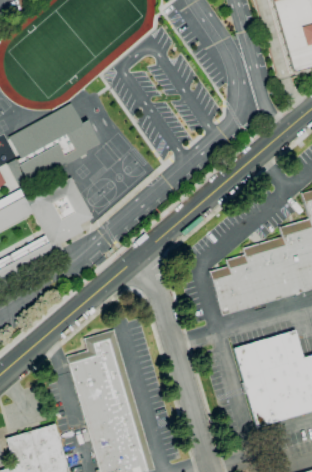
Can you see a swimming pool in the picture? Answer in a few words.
No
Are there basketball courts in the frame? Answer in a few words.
Yes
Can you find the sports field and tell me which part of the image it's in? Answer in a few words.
top left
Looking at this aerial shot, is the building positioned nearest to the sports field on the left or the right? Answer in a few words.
left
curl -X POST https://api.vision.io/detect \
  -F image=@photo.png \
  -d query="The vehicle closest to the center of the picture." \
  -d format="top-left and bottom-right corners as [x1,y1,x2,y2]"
[132,233,149,248]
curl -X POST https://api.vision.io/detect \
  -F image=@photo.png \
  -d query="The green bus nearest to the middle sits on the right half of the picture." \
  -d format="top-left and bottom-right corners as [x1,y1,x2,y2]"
[182,216,204,236]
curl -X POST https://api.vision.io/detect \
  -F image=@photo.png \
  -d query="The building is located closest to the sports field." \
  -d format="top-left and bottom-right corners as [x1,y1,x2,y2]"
[8,102,84,162]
